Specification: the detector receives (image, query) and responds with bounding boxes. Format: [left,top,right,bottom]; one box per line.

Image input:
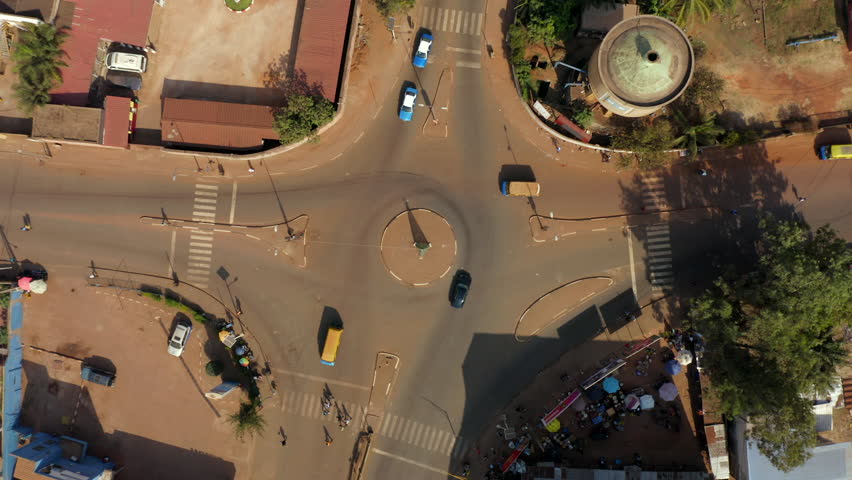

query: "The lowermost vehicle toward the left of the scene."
[82,364,116,386]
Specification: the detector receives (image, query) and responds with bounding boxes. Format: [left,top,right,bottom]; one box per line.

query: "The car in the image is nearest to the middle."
[451,272,469,305]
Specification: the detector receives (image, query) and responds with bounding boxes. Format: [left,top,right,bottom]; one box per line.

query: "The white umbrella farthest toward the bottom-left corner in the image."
[32,276,51,296]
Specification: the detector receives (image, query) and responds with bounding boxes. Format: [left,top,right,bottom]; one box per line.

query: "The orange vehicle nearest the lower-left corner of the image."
[320,325,344,365]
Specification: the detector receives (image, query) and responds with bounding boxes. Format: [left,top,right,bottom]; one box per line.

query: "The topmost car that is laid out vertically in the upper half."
[413,32,433,69]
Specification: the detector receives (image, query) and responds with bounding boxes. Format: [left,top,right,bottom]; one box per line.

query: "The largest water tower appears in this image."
[587,15,695,118]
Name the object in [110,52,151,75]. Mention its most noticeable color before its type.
white vehicle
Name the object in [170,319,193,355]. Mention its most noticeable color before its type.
white car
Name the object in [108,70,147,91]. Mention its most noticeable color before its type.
gray car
